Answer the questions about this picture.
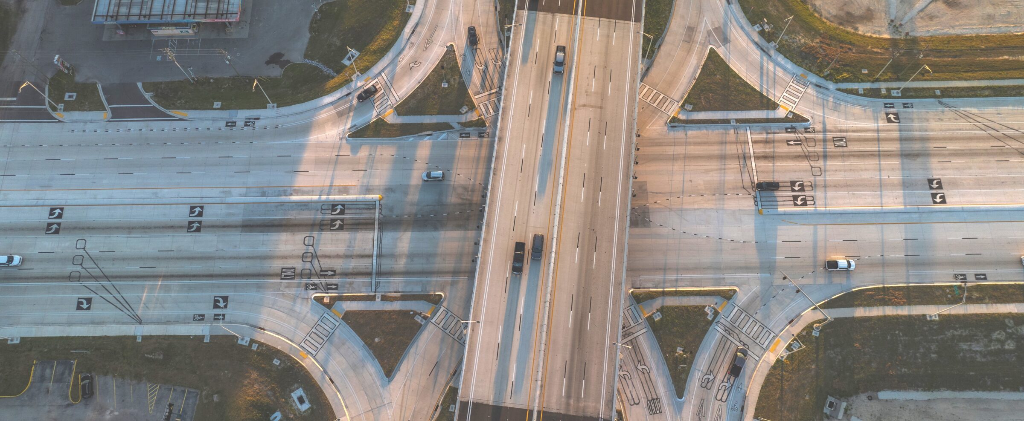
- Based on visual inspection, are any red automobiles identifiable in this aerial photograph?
No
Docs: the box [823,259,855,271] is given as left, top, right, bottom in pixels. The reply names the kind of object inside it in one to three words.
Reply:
vehicle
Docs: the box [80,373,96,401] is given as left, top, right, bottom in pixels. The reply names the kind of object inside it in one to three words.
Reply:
car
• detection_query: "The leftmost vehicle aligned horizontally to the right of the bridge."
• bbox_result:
[754,180,780,192]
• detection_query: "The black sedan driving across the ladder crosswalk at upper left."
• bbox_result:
[357,85,379,102]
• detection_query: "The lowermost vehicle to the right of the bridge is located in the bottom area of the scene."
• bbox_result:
[726,347,748,380]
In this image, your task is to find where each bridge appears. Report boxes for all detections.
[456,0,645,421]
